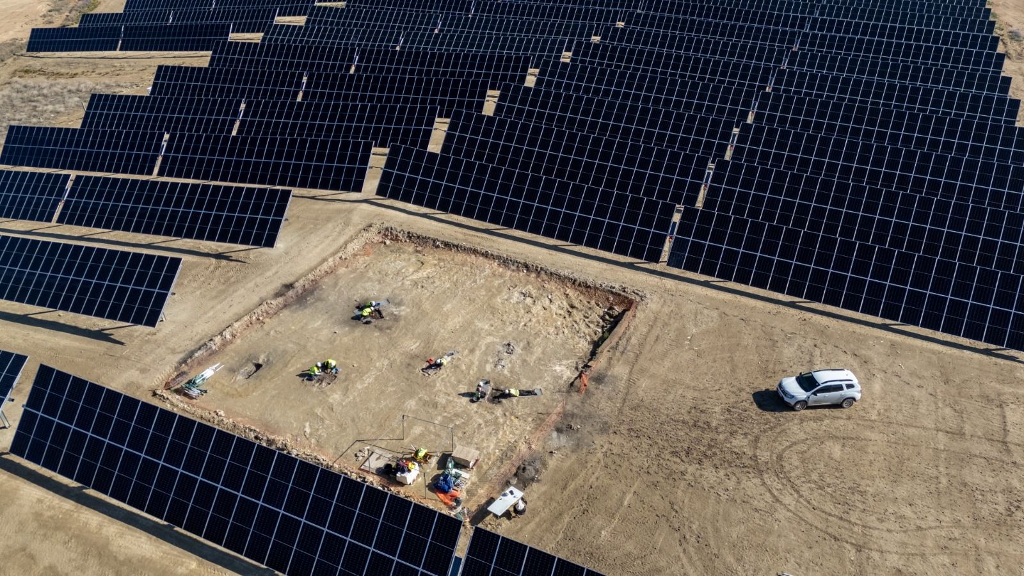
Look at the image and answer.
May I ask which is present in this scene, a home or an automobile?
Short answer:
automobile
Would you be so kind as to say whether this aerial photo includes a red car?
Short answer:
No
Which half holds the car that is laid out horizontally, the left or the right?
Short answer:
right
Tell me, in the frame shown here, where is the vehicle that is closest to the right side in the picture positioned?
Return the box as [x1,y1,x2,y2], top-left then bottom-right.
[775,366,864,412]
